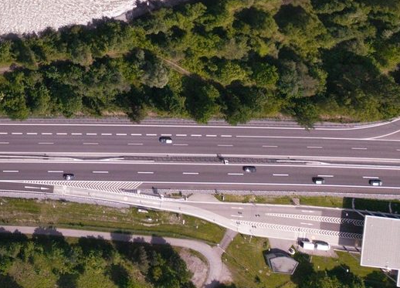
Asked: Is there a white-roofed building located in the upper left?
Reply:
No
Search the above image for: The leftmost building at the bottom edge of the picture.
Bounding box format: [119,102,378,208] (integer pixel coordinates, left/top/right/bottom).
[264,250,298,274]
